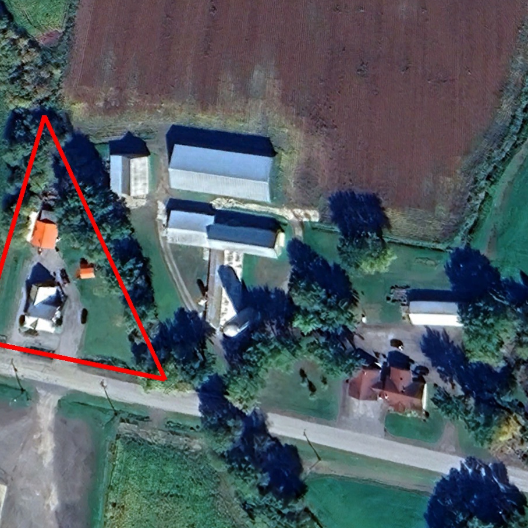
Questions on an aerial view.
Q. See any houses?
Yes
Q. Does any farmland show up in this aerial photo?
Yes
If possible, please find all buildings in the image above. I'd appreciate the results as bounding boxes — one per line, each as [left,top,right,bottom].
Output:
[23,279,63,334]
[348,364,429,413]
[168,142,278,203]
[75,266,97,279]
[166,207,283,260]
[408,300,467,326]
[110,152,151,196]
[31,208,61,250]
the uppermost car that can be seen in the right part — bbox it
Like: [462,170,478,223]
[389,338,405,350]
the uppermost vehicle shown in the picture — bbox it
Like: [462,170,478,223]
[60,268,72,285]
